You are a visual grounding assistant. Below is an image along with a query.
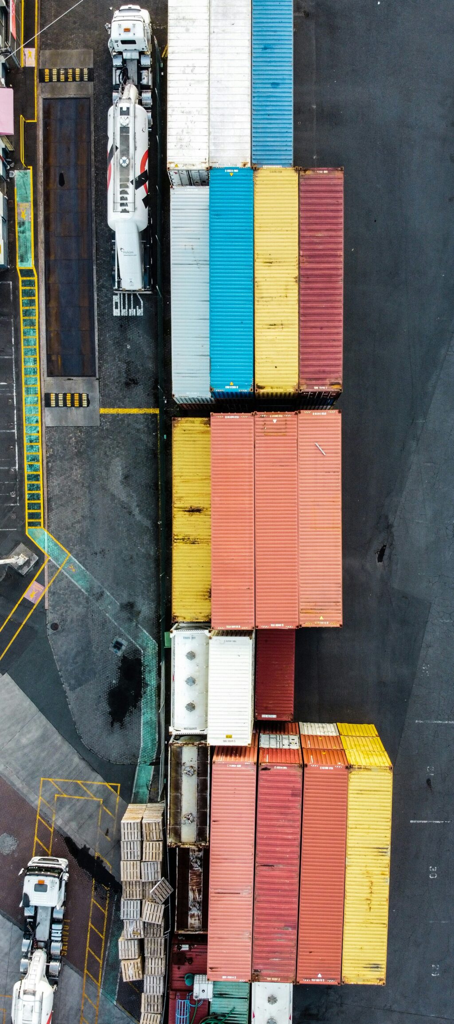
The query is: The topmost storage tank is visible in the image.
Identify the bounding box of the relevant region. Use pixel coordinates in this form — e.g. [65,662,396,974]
[174,627,209,728]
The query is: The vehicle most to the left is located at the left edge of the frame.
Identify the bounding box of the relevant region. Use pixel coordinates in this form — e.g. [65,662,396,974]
[12,848,70,1024]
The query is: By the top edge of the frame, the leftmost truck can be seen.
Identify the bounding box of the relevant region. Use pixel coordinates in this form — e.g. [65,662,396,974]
[103,5,153,293]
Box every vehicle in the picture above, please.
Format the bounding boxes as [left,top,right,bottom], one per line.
[12,848,70,1024]
[103,5,153,293]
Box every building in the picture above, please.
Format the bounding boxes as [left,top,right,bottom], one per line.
[0,0,21,68]
[0,137,10,268]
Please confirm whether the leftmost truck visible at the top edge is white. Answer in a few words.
Yes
